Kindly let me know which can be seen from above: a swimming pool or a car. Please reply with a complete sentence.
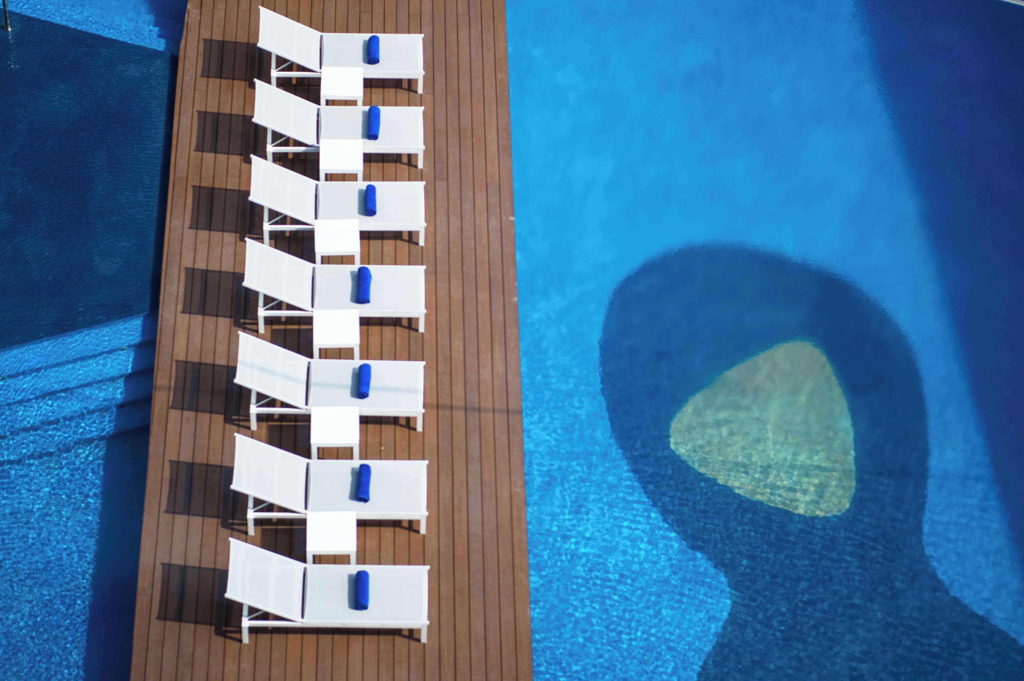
I can see a swimming pool in this picture.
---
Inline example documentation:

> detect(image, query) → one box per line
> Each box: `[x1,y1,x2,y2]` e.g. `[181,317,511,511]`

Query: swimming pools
[0,0,188,681]
[505,0,1024,681]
